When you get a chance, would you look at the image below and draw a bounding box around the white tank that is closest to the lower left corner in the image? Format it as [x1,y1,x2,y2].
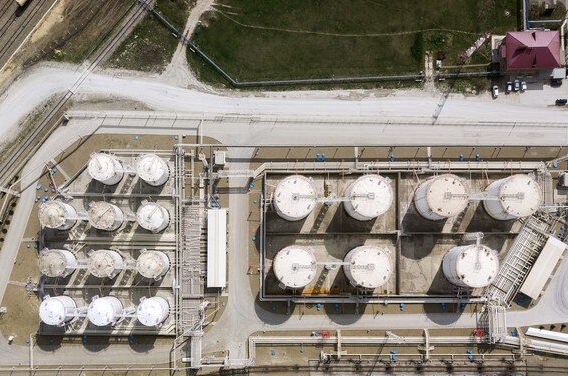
[38,294,83,328]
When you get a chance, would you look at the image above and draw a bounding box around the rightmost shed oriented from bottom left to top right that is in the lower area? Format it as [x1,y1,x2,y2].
[515,236,568,299]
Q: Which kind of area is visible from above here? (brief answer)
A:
industrial area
